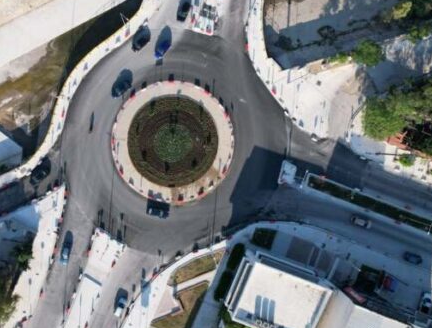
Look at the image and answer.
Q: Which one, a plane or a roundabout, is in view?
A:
roundabout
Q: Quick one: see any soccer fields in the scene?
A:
No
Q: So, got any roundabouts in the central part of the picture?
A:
Yes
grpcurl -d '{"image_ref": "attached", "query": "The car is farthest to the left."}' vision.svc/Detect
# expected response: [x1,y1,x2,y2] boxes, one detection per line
[28,166,47,183]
